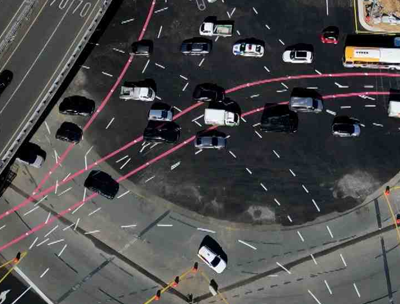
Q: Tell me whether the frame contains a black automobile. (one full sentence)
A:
Yes, a black automobile is visible in the scene.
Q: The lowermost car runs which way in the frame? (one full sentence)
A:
From this overhead view, the lowermost car appears to run at an angle.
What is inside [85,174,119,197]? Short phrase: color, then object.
black car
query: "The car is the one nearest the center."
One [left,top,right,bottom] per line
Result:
[194,134,228,149]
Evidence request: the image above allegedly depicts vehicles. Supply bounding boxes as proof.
[148,108,173,122]
[196,245,229,277]
[388,101,400,117]
[201,22,232,37]
[181,42,212,57]
[131,42,154,56]
[330,121,362,136]
[61,100,93,115]
[233,42,264,57]
[85,174,119,197]
[194,134,228,149]
[392,36,400,46]
[342,45,400,68]
[193,87,226,103]
[145,125,180,140]
[55,128,84,143]
[121,87,155,102]
[205,109,239,127]
[320,31,341,43]
[282,49,313,64]
[291,96,323,113]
